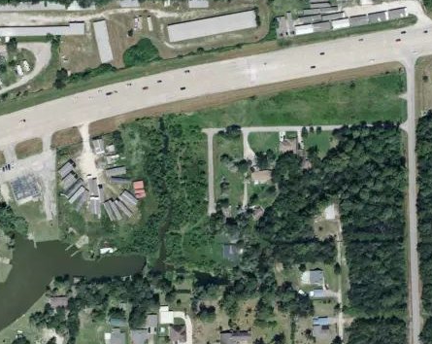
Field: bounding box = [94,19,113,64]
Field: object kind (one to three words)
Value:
building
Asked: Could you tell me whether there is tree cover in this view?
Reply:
Yes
